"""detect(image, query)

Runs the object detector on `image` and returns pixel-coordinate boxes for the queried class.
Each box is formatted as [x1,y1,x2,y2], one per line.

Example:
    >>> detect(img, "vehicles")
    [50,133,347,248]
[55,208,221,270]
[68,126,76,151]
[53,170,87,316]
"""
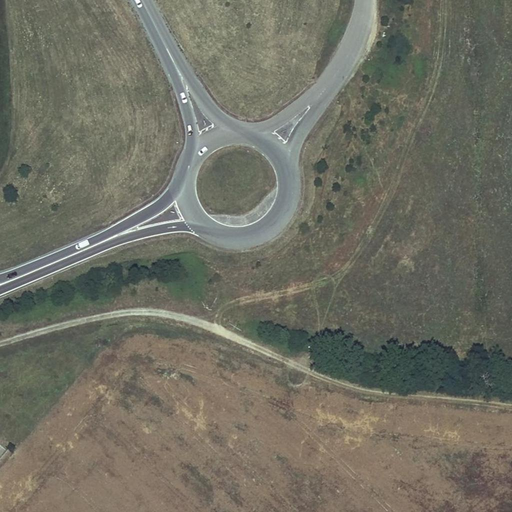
[6,272,17,278]
[135,0,142,8]
[76,240,90,250]
[198,146,208,156]
[180,92,186,103]
[187,125,192,136]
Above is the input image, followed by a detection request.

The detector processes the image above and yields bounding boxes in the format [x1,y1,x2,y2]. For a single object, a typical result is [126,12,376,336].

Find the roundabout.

[169,120,301,250]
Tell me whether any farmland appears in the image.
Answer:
Yes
